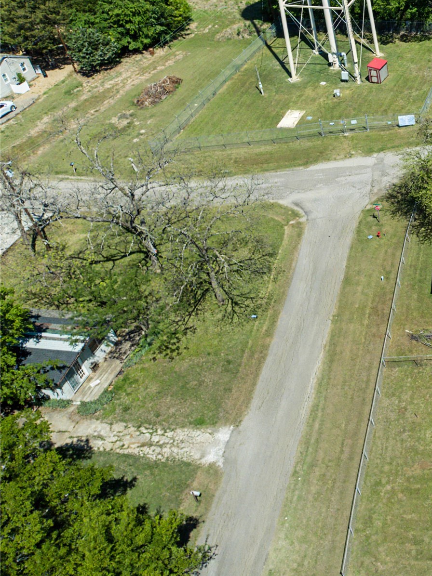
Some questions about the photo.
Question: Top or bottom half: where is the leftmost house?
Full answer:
The leftmost house sits in the top half of the picture.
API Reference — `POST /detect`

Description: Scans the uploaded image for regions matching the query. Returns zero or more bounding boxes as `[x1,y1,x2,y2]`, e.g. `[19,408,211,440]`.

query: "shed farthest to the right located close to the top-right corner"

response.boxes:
[366,58,388,84]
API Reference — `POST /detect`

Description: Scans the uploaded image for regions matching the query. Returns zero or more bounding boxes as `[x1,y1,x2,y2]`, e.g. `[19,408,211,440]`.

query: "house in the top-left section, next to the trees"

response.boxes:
[0,52,38,98]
